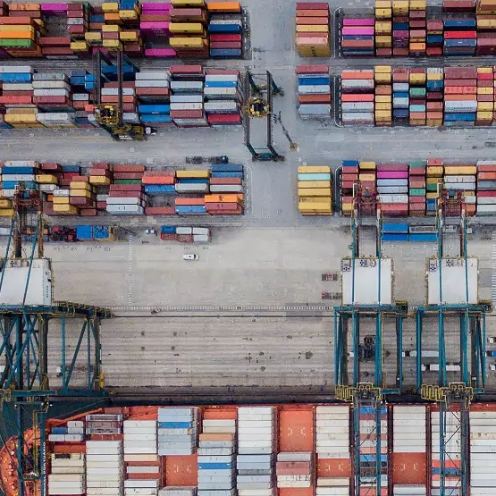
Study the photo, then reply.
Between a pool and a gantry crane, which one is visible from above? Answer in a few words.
gantry crane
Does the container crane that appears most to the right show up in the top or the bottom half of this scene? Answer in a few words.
bottom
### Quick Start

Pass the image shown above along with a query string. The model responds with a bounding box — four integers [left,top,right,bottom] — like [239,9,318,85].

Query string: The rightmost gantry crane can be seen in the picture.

[414,186,494,496]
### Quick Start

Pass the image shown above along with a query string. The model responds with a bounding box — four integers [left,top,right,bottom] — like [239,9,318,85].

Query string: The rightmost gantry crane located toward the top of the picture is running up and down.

[245,70,285,159]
